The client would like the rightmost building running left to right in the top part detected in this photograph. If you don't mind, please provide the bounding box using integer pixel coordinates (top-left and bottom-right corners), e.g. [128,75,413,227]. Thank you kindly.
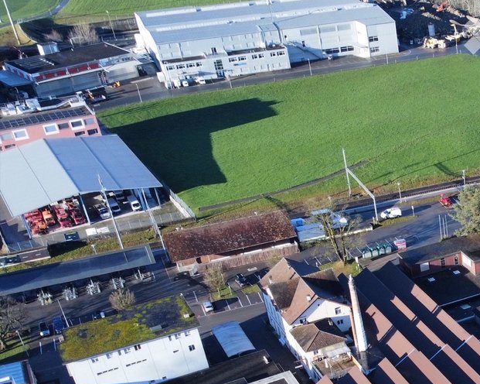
[128,0,398,85]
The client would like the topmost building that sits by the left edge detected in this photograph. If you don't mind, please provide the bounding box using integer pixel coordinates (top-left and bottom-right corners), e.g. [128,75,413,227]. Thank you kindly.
[0,39,145,102]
